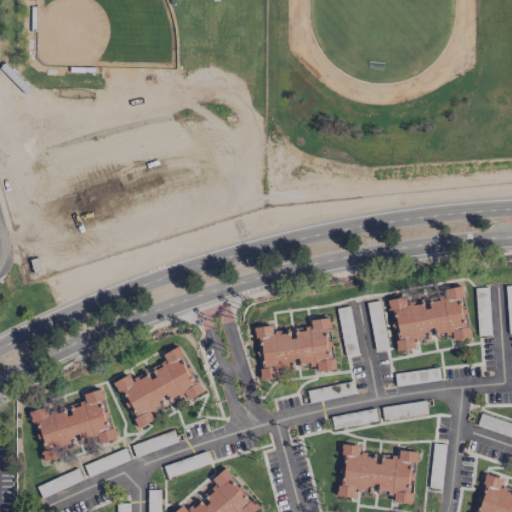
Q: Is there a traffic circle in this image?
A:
No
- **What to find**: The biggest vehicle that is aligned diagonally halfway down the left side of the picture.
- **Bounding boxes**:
[72,214,85,232]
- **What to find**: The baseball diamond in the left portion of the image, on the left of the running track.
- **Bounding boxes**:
[38,0,176,67]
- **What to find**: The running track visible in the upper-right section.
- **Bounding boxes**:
[289,0,477,105]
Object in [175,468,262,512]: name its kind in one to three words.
building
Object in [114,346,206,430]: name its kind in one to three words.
building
